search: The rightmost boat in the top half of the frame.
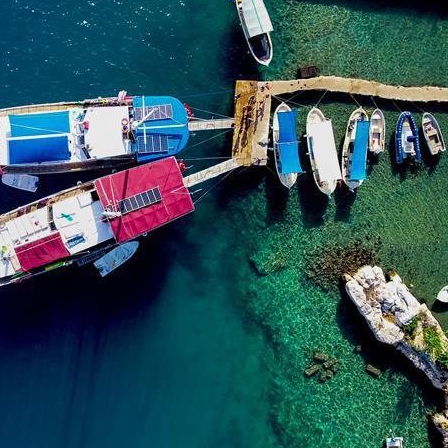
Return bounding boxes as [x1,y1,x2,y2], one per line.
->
[419,108,445,157]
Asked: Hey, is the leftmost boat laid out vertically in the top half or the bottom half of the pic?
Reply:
top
